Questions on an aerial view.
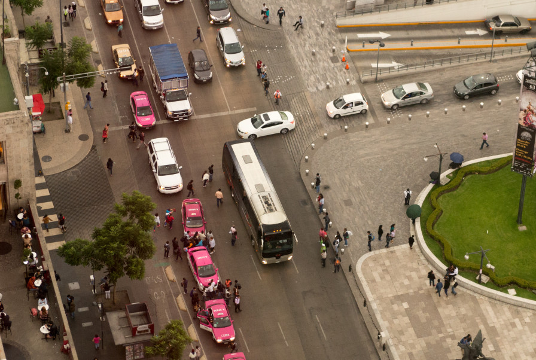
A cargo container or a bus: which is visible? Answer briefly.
bus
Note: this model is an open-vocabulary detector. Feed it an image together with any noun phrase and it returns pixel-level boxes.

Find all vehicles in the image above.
[148,38,193,122]
[196,296,238,347]
[147,137,183,194]
[127,89,159,131]
[323,91,373,120]
[99,0,127,27]
[186,244,220,294]
[221,141,305,264]
[181,197,207,246]
[187,48,215,84]
[221,350,247,360]
[452,73,501,101]
[378,83,437,110]
[515,63,535,85]
[237,112,296,139]
[133,0,165,29]
[202,0,231,24]
[111,41,140,82]
[215,24,247,68]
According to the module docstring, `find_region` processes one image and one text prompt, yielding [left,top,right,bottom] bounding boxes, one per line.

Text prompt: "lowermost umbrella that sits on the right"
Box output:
[405,207,423,220]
